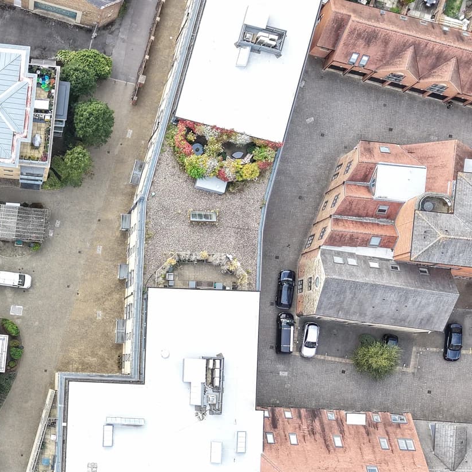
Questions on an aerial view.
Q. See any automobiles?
Yes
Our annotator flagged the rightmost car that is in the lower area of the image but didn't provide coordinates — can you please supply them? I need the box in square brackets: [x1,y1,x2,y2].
[442,322,466,364]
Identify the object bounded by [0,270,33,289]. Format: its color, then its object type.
white vehicle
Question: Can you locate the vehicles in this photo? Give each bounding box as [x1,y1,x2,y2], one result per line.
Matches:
[382,331,402,366]
[0,270,33,289]
[299,321,322,358]
[442,322,466,364]
[275,312,298,354]
[276,269,299,309]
